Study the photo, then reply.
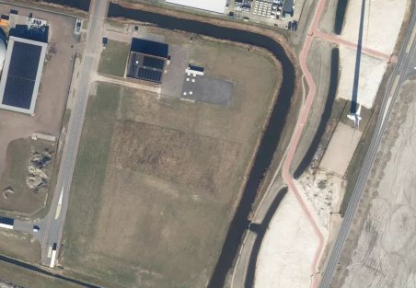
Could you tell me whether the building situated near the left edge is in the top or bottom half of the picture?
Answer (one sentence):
The building situated near the left edge sits in the top half of the picture.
